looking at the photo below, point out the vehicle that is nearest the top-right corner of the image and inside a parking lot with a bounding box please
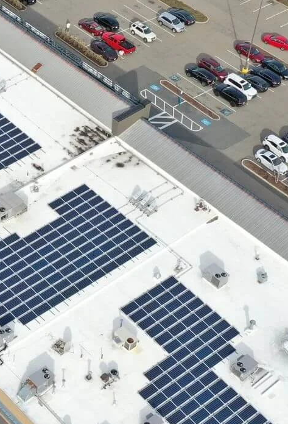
[262,35,288,54]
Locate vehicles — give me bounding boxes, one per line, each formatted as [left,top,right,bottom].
[253,149,288,175]
[186,66,217,87]
[168,8,195,27]
[262,135,288,162]
[212,80,248,107]
[262,35,288,54]
[77,18,105,38]
[156,11,186,32]
[240,71,273,94]
[233,42,264,63]
[127,20,157,43]
[262,58,288,81]
[198,57,228,81]
[101,32,137,57]
[92,12,120,32]
[88,40,118,62]
[249,64,281,88]
[225,73,258,100]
